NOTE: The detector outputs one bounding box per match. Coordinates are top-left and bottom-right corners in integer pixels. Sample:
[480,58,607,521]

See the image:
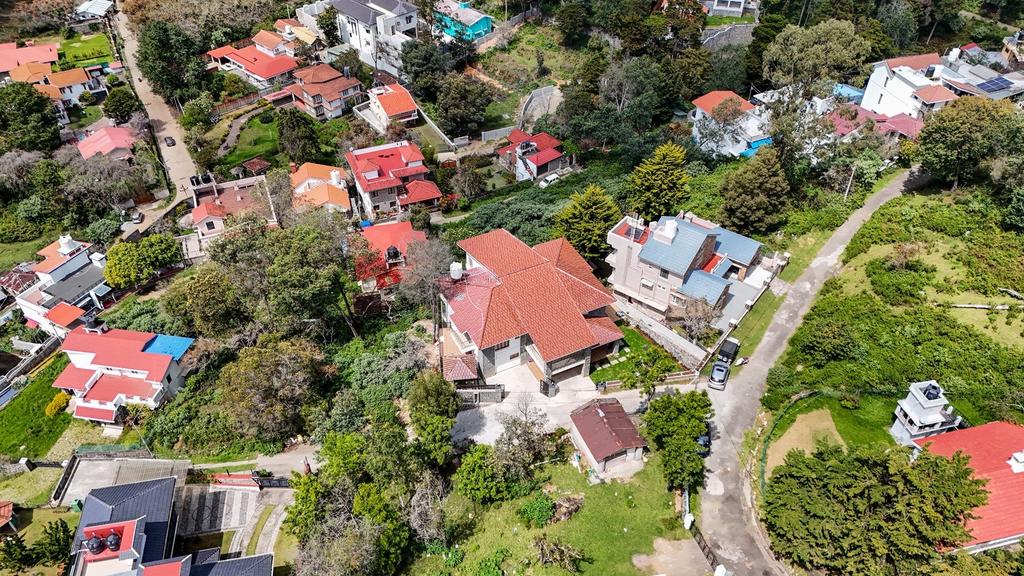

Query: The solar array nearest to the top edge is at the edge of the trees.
[973,73,1018,94]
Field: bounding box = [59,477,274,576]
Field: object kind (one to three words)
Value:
house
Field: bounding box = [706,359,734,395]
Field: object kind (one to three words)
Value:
car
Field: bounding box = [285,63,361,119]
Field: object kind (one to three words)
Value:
house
